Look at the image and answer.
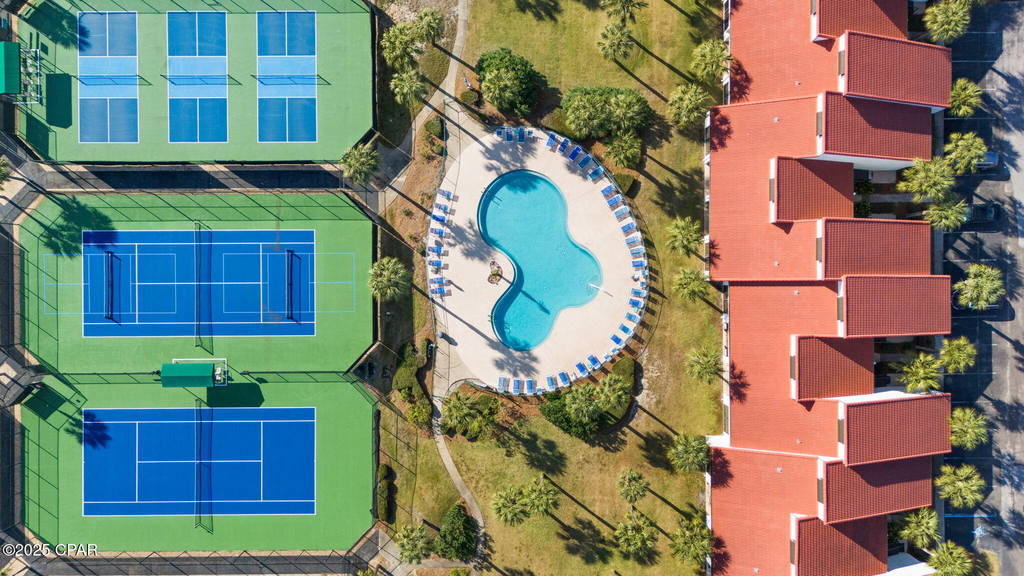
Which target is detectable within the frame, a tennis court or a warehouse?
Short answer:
tennis court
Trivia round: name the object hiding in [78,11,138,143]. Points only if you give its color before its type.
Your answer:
blue sports court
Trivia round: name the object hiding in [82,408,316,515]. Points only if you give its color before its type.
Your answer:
blue tennis court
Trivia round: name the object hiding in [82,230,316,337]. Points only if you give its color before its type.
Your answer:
blue tennis court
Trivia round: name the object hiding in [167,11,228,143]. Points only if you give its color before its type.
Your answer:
blue sports court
